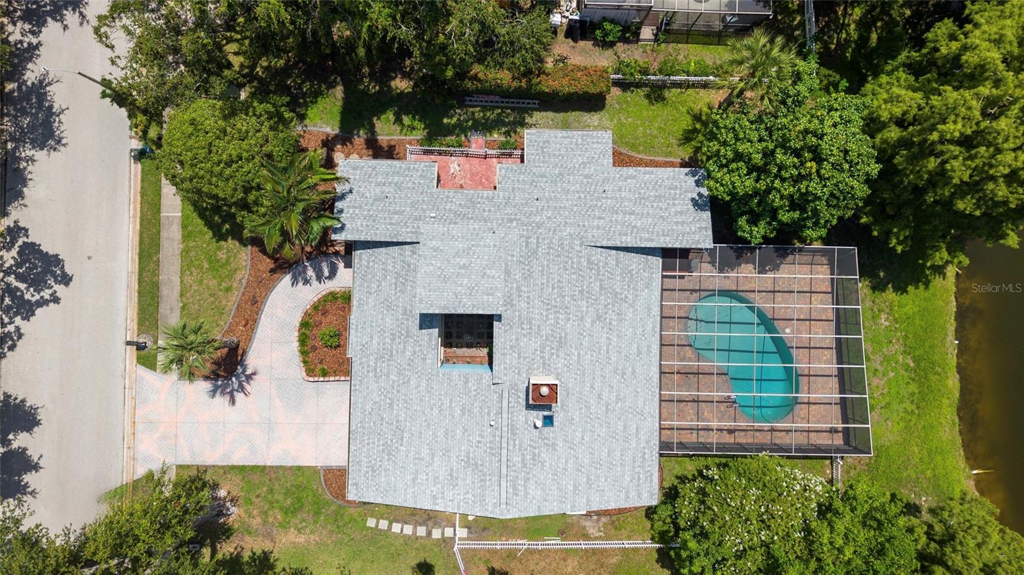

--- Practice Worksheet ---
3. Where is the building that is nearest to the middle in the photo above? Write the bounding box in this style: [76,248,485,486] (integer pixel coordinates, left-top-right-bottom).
[332,130,713,517]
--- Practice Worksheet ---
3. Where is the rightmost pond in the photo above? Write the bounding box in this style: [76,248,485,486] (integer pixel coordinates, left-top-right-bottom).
[954,157,1024,533]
